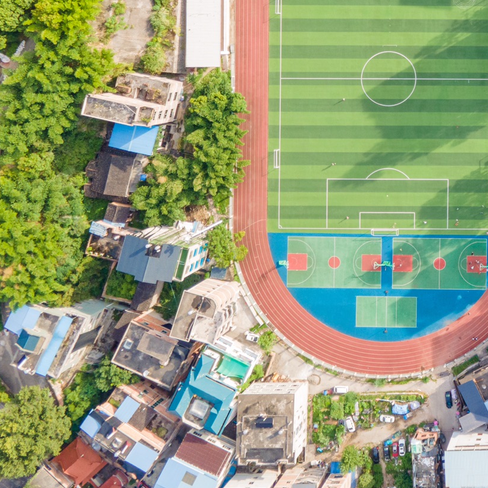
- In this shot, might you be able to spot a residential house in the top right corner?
No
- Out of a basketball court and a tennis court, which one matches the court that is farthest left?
basketball court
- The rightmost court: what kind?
basketball court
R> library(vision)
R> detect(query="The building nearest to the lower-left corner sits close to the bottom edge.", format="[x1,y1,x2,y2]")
[27,461,77,488]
